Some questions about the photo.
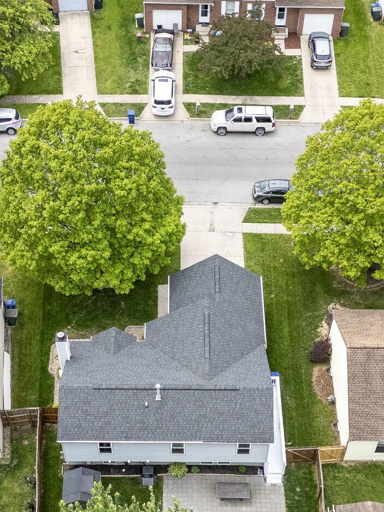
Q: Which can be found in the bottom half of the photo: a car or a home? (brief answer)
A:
home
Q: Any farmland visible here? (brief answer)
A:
No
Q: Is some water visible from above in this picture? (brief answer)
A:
No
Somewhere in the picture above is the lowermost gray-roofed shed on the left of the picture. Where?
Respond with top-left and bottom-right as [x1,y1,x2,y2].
[61,468,102,512]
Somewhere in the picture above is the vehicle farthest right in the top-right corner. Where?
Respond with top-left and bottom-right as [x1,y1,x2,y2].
[308,33,334,67]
